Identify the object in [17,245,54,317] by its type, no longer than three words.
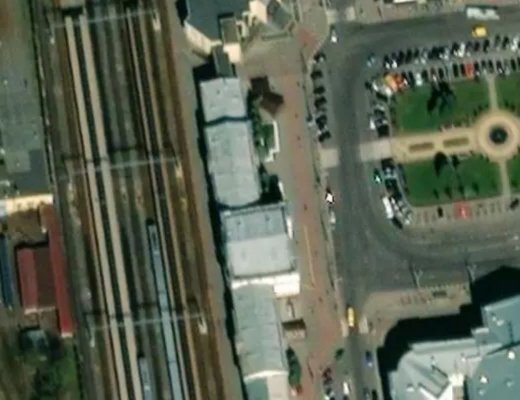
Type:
shed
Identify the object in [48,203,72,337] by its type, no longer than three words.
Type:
shed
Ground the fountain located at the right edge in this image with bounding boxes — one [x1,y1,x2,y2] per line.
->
[488,124,508,145]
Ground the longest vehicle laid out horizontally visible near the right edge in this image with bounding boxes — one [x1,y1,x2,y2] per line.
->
[464,9,498,23]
